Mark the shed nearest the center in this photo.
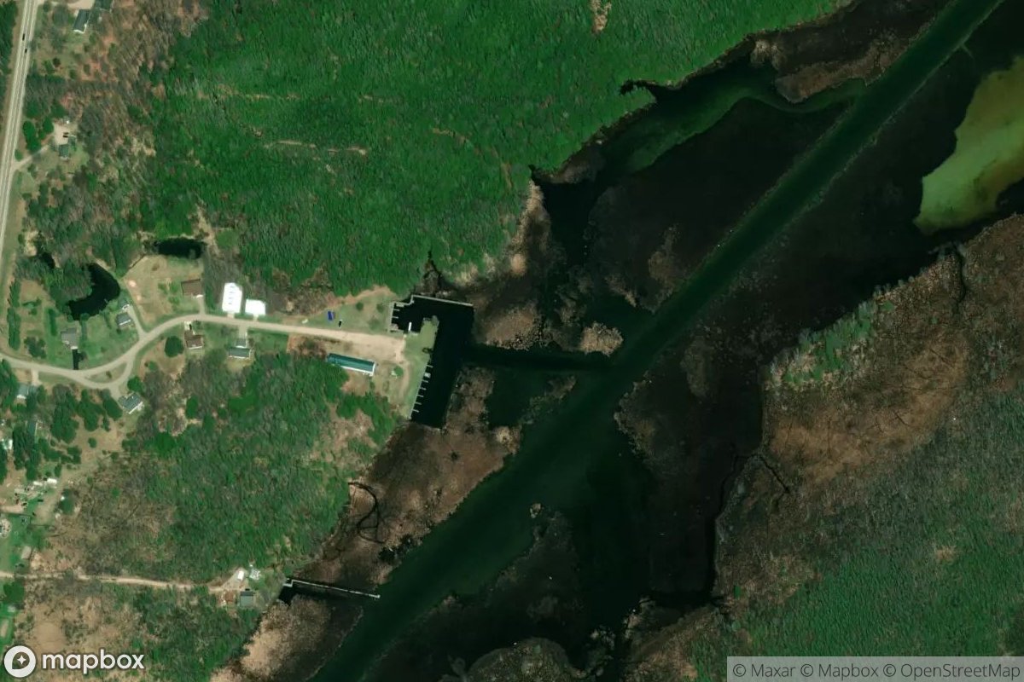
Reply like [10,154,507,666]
[327,354,376,375]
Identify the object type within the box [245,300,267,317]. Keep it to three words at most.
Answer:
building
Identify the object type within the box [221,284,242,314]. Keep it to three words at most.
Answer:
building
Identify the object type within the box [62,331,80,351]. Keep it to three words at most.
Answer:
house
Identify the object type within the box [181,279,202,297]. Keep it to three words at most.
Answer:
house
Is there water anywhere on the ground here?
Yes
